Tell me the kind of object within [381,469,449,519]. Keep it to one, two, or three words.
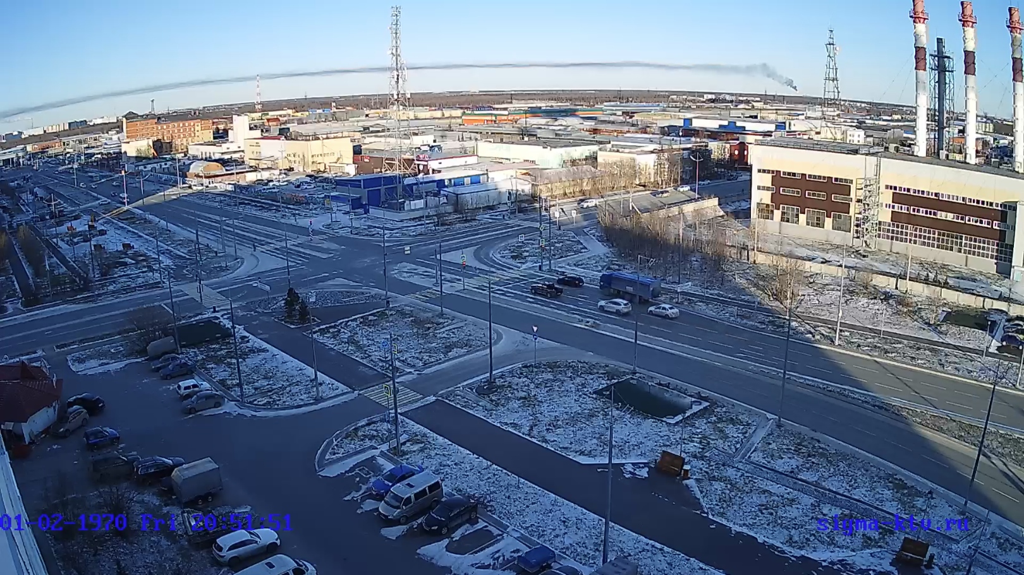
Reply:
vehicle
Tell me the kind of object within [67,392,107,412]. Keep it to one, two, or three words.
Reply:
car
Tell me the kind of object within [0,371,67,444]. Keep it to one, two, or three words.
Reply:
building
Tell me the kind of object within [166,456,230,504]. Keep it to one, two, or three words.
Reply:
trailer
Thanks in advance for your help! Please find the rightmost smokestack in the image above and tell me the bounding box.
[1005,6,1023,170]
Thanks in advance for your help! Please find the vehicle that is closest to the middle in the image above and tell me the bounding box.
[530,281,562,297]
